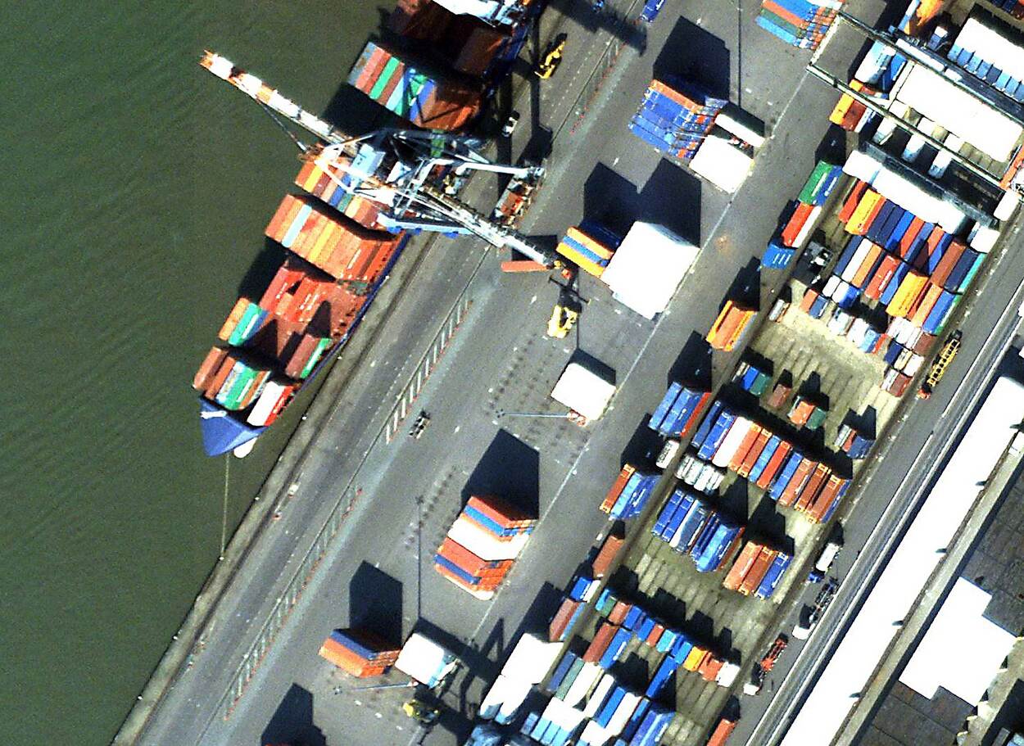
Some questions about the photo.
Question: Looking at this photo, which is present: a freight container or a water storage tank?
freight container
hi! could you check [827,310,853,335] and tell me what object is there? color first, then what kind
white shipping container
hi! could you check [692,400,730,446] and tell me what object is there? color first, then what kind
blue shipping container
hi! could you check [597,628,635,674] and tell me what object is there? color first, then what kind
blue shipping container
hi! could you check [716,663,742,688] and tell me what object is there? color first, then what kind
white shipping container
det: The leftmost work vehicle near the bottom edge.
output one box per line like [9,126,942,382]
[404,700,443,726]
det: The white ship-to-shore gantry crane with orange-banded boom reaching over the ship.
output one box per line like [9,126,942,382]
[190,46,558,268]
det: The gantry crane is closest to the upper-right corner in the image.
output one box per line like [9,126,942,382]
[805,8,1024,199]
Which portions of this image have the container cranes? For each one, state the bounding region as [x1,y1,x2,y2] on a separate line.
[190,46,558,268]
[805,8,1024,199]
